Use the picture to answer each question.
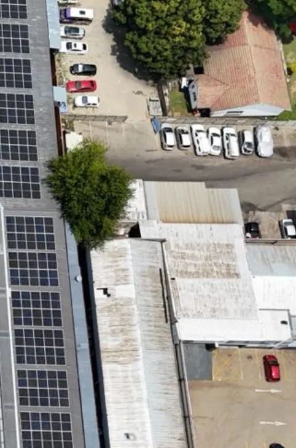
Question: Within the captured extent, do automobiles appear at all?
Yes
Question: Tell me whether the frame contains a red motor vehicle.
Yes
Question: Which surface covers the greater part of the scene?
buildings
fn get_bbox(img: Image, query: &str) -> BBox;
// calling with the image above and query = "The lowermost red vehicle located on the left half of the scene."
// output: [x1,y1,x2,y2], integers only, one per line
[67,78,99,92]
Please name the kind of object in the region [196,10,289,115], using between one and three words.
house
